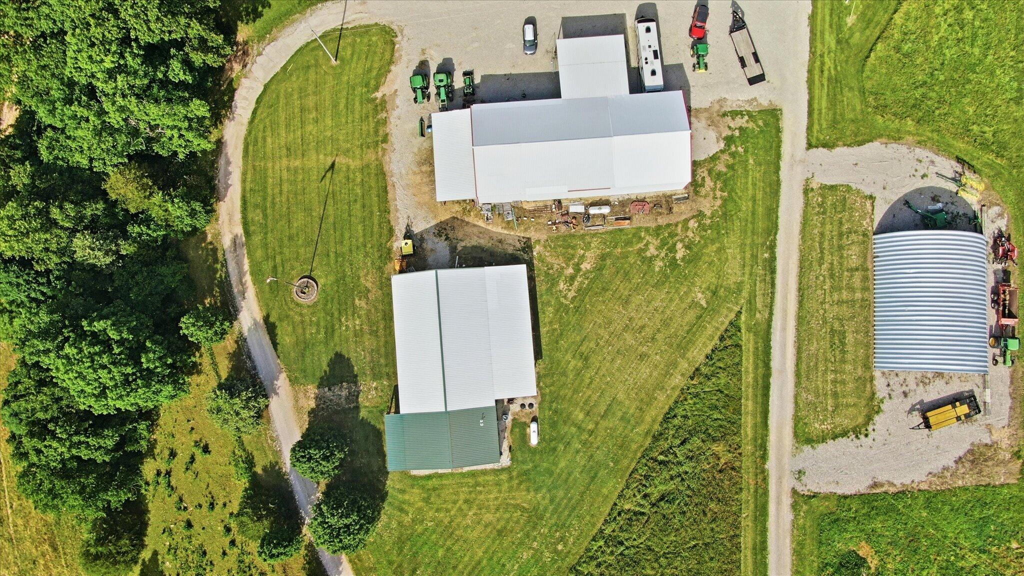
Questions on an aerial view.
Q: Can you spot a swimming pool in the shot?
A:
No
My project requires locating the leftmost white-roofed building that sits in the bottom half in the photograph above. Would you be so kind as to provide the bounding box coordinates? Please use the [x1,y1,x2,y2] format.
[384,263,536,472]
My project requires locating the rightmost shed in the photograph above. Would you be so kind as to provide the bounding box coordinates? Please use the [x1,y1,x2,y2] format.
[871,230,990,373]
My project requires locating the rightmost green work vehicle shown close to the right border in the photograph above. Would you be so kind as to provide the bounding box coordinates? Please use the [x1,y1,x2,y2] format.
[991,338,1020,365]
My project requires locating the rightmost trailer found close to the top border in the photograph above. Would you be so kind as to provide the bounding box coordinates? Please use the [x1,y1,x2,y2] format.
[730,8,765,85]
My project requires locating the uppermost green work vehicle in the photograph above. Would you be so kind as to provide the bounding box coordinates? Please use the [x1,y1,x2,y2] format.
[691,45,708,74]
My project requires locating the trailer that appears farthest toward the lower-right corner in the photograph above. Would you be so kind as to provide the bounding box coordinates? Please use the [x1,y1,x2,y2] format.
[908,396,981,431]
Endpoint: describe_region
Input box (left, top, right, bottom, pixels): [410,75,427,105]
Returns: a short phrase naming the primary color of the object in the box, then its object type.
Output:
green work vehicle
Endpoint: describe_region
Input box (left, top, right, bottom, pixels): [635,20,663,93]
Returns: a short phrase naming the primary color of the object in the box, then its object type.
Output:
white camper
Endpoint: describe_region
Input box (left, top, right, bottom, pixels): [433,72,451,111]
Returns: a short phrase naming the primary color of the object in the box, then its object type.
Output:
green work vehicle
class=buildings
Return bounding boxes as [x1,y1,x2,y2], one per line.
[431,34,694,206]
[384,263,536,472]
[871,230,990,373]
